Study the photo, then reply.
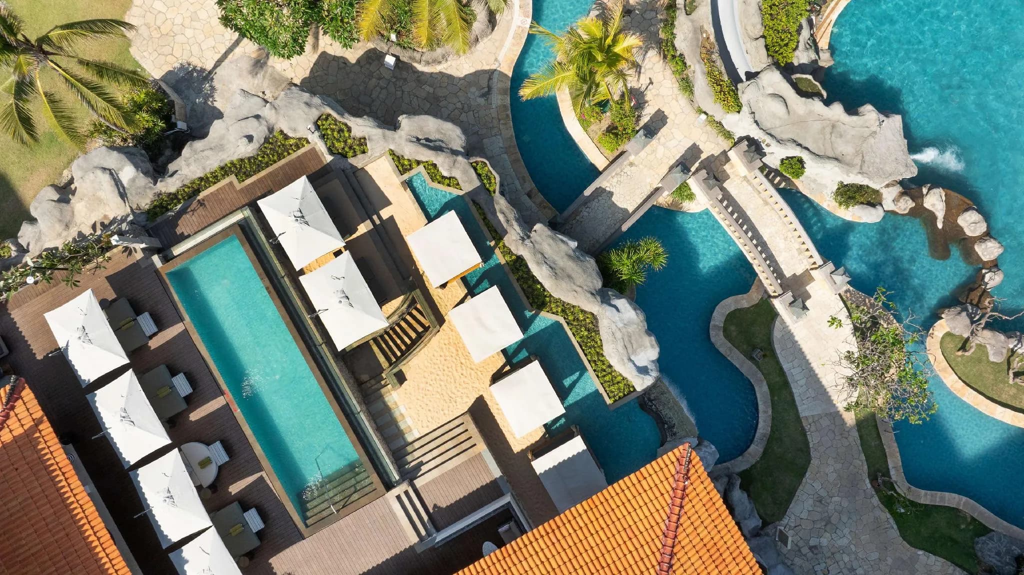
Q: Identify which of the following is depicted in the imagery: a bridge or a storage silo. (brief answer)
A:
bridge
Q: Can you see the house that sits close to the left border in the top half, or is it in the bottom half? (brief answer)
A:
bottom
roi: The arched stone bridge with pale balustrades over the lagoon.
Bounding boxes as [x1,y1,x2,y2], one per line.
[700,168,825,302]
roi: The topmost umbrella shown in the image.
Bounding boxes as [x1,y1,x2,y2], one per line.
[261,176,344,271]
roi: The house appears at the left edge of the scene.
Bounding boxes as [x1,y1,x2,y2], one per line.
[0,371,136,575]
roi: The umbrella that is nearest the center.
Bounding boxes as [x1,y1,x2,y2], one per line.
[303,253,386,348]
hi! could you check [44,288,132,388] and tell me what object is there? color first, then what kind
white umbrella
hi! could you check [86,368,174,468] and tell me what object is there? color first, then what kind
white umbrella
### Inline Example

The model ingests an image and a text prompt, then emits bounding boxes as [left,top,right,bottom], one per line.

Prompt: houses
[0,371,136,575]
[446,439,763,575]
